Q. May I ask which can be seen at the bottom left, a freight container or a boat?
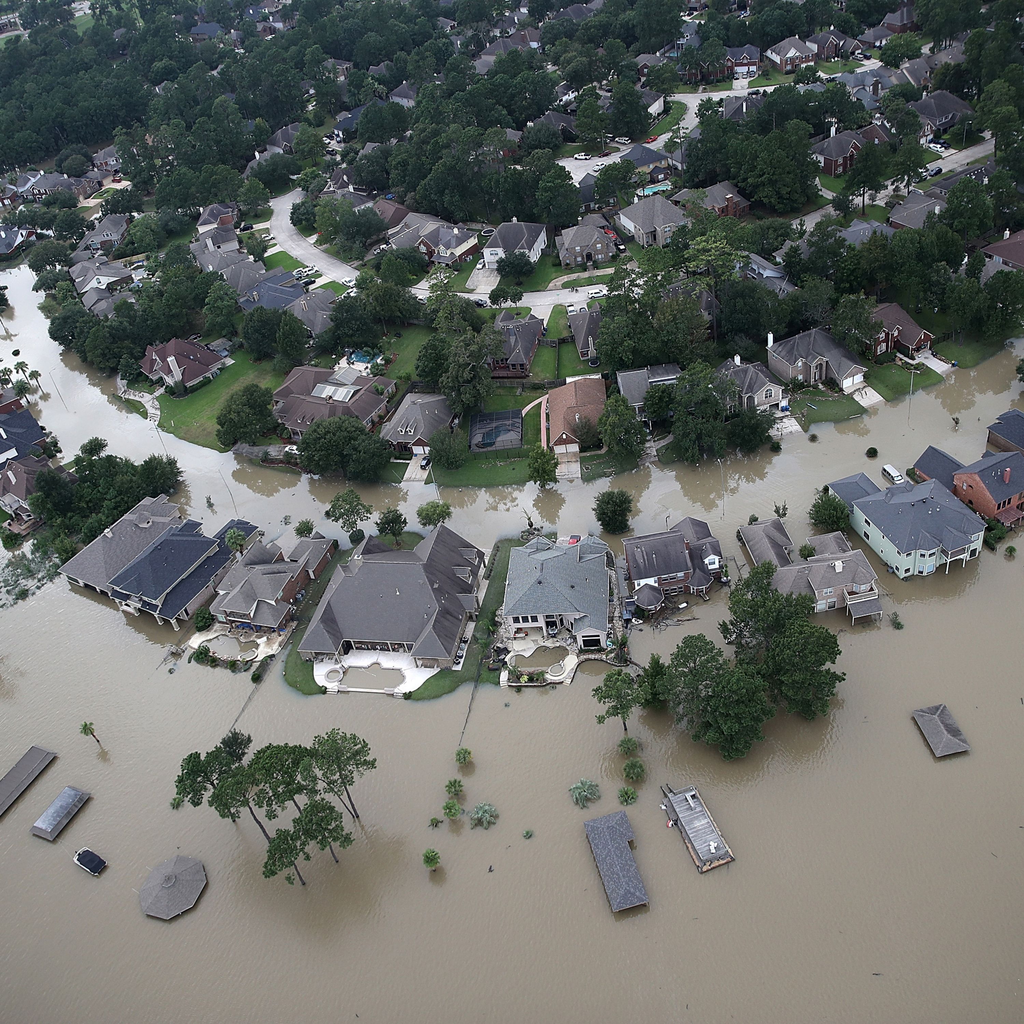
boat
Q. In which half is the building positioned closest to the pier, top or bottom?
bottom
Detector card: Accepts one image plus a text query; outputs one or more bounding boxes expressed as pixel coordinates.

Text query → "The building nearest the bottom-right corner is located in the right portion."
[914,704,970,758]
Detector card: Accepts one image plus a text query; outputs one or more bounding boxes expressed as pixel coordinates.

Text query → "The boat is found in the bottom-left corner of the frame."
[74,847,107,872]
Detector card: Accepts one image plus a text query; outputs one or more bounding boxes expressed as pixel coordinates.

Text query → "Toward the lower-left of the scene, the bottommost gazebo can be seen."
[141,859,204,916]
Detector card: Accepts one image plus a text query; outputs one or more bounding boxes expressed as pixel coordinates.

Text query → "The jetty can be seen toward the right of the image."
[661,780,735,874]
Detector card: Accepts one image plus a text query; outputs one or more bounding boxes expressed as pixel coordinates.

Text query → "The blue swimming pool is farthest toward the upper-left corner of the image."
[351,349,381,363]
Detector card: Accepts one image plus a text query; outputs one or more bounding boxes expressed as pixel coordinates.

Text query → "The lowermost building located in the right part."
[585,811,649,912]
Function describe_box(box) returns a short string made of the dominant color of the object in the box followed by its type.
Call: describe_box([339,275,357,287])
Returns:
white vehicle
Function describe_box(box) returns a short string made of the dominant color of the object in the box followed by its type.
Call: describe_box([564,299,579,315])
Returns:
white vehicle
